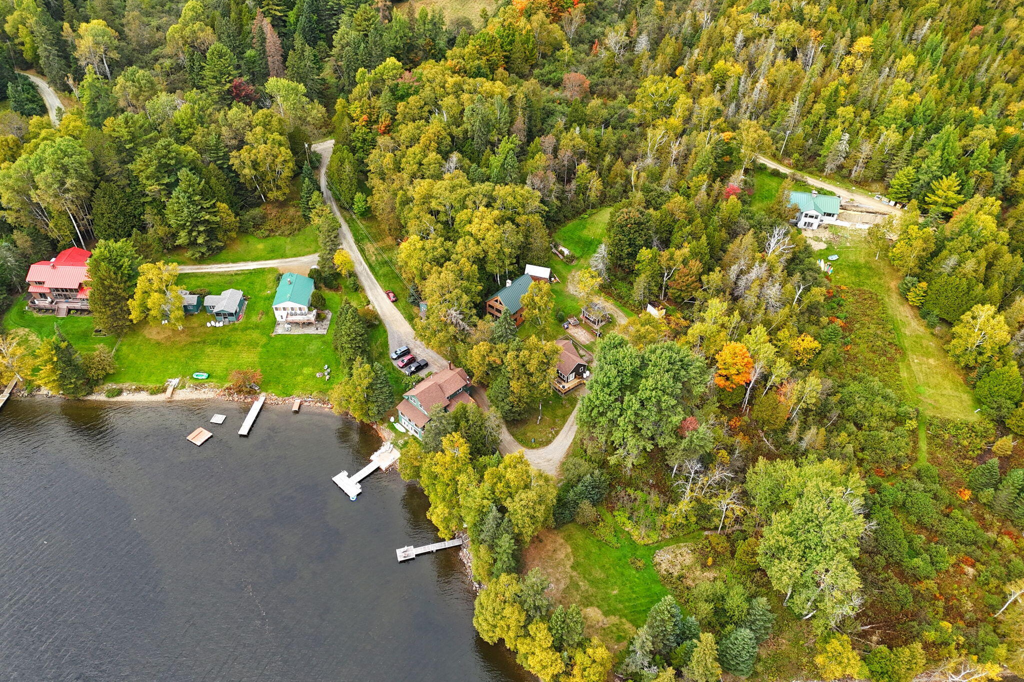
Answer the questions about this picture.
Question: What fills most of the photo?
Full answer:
The bulk of the photo consists of trees.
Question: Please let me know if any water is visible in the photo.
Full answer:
Yes, there is water in the image.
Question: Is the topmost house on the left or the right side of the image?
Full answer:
The topmost house appears in the right half of the scene.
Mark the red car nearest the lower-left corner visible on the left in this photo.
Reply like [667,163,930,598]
[396,353,416,368]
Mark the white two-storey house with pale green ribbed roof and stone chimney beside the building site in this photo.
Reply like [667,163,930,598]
[788,190,840,227]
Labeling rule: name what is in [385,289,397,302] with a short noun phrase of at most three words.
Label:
vehicle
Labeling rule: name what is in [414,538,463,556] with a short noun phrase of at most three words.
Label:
pier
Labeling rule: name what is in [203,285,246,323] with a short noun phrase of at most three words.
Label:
building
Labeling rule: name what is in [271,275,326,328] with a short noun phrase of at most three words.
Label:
house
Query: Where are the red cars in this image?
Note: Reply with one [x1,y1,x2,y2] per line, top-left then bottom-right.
[385,289,397,302]
[396,353,416,368]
